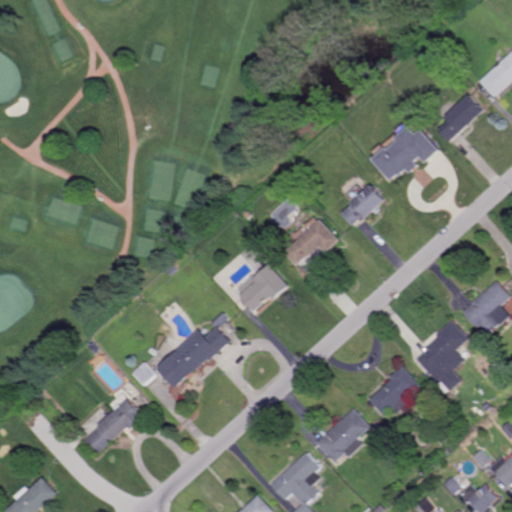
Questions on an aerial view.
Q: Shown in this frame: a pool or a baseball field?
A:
pool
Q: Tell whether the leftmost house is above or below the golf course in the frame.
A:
below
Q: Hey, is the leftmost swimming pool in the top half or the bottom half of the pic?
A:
bottom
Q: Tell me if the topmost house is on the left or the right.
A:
right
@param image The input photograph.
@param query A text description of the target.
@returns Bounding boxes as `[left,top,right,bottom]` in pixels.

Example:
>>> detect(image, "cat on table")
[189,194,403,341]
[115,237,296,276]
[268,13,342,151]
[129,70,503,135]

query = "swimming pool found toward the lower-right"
[460,459,478,477]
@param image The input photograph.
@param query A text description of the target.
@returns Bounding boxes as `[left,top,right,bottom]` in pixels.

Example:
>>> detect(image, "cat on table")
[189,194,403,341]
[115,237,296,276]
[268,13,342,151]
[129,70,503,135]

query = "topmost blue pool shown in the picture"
[229,264,252,284]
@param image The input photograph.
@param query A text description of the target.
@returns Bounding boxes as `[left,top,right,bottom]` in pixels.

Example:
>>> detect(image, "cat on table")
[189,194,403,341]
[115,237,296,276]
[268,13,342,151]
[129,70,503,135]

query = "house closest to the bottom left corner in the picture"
[2,477,56,512]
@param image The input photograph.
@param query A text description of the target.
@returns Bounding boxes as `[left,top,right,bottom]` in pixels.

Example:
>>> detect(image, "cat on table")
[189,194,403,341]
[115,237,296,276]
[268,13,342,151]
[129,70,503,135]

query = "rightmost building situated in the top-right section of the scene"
[479,52,512,98]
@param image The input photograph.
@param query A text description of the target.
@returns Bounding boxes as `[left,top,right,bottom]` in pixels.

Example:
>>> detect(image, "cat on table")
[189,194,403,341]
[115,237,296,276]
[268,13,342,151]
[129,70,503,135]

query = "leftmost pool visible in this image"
[96,362,124,392]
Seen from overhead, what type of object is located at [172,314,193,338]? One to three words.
swimming pool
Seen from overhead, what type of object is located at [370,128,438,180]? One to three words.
house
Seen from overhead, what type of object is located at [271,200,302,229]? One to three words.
building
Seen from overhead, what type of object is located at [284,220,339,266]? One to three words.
house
